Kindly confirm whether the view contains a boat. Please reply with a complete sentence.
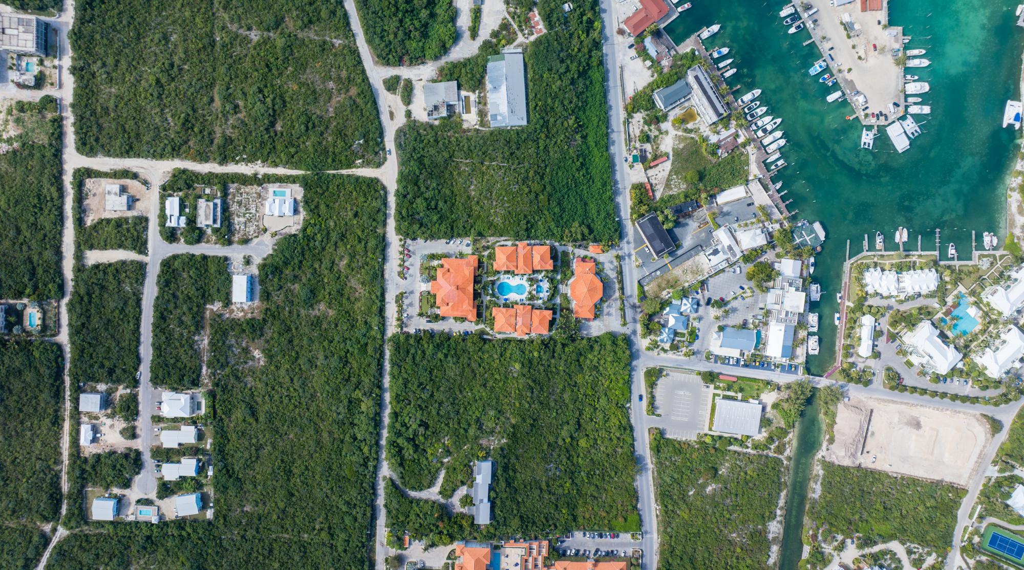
Yes, this view includes a boat.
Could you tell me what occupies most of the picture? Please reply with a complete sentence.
What you mostly see from above here is trees.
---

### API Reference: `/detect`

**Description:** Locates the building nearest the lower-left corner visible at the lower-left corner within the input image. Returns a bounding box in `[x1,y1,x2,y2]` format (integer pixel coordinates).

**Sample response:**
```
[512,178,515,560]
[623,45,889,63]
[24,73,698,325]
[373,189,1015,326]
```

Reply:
[93,496,119,521]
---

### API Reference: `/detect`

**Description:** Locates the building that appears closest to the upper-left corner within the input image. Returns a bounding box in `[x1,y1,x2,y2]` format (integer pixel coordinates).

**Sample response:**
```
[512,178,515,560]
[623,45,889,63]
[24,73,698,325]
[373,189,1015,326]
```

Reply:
[0,16,46,56]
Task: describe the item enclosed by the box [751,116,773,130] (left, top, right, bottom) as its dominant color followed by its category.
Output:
white boat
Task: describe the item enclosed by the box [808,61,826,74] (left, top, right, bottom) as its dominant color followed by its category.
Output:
blue boat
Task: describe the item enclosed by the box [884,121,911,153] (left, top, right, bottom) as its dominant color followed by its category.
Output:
white ship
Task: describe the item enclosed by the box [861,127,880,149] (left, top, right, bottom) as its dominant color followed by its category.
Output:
white boat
